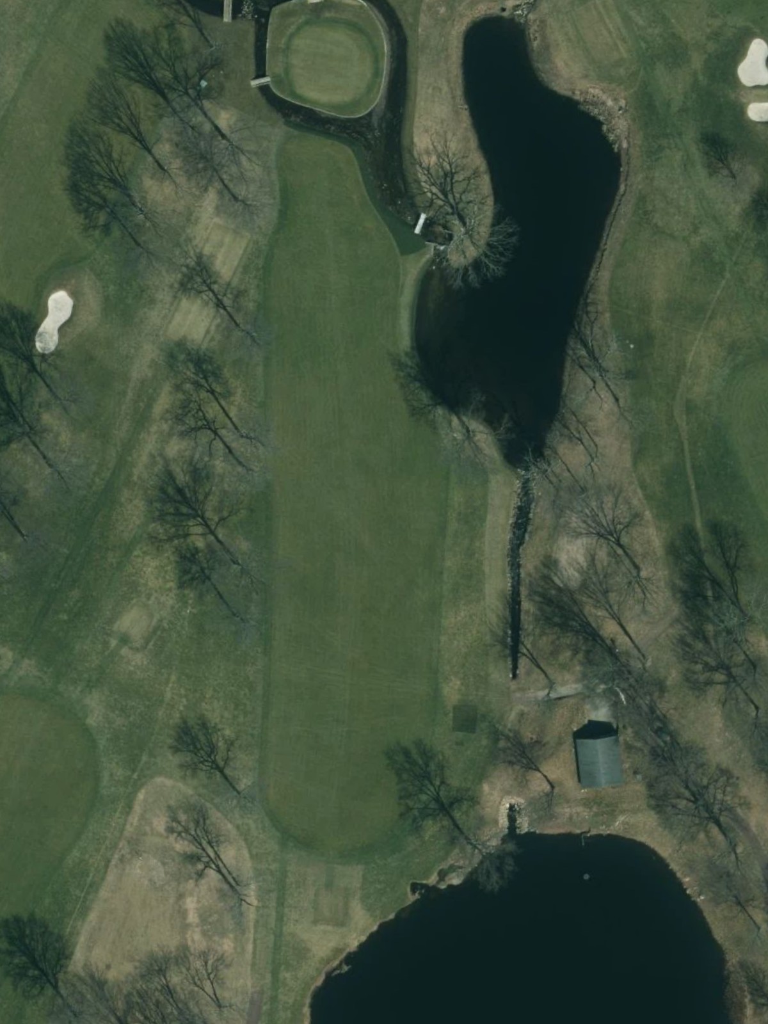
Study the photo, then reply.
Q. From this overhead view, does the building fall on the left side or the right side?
right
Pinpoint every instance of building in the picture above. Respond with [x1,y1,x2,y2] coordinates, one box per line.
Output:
[576,735,623,789]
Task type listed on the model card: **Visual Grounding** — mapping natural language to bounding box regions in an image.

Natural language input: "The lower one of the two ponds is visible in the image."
[310,803,733,1024]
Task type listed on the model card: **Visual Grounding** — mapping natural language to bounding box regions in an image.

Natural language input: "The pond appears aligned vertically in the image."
[415,15,621,474]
